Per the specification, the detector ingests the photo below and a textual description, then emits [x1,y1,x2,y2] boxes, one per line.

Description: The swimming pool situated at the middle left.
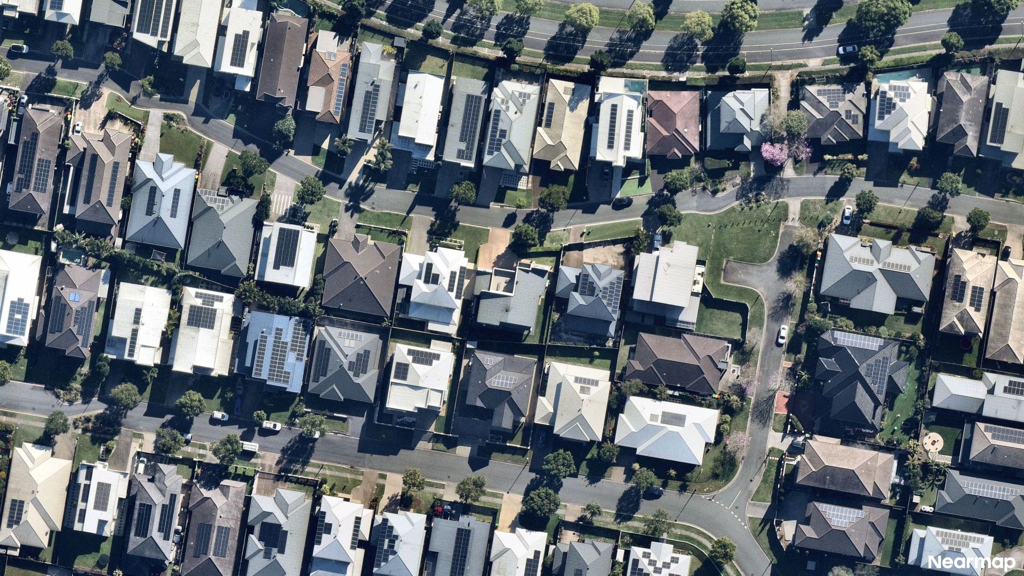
[60,250,85,263]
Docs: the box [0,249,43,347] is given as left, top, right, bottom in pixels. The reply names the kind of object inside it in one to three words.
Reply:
house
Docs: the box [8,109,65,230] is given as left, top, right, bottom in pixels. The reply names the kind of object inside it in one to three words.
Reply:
house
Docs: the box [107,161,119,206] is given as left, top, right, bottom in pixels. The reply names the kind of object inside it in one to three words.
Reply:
solar array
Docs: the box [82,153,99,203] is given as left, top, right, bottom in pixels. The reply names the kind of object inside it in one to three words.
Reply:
solar array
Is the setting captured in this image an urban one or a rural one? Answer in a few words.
urban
